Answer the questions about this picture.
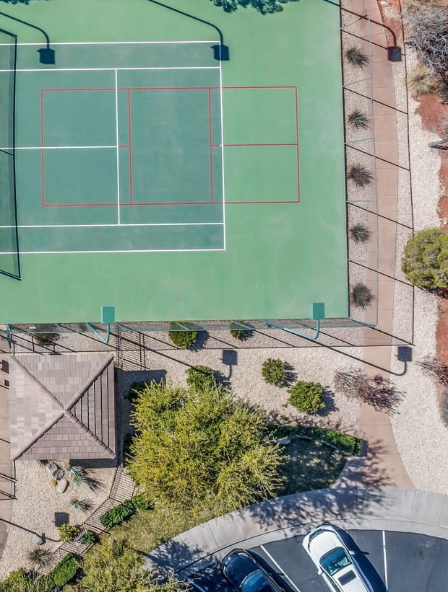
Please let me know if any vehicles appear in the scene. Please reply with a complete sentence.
Yes, you can see a vehicle in this photo.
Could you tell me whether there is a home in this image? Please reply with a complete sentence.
No, I find no home anywhere in the image.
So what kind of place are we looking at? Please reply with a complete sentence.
This looks like a sports ground.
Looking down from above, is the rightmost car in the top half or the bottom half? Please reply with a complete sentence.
It is in the bottom half that the rightmost car appears.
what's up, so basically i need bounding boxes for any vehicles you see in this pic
[220,541,296,592]
[302,524,371,592]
